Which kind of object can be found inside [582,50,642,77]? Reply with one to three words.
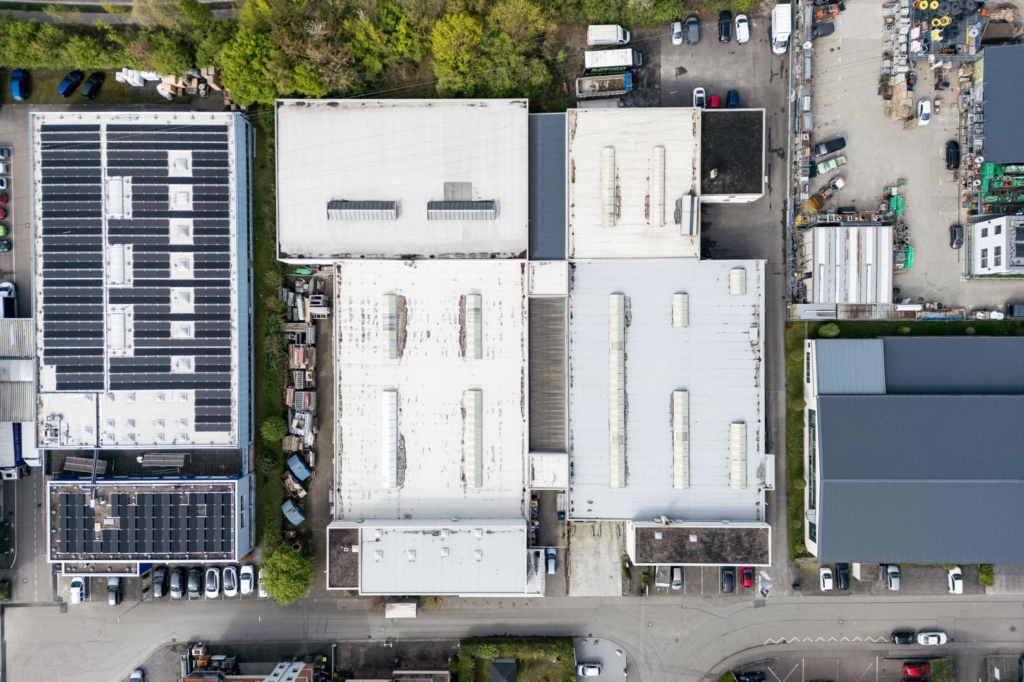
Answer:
truck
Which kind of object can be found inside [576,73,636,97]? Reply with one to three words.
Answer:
trailer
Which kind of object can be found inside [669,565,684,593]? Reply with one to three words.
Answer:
car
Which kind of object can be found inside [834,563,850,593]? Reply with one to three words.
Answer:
vehicle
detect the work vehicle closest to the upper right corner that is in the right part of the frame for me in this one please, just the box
[935,75,954,91]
